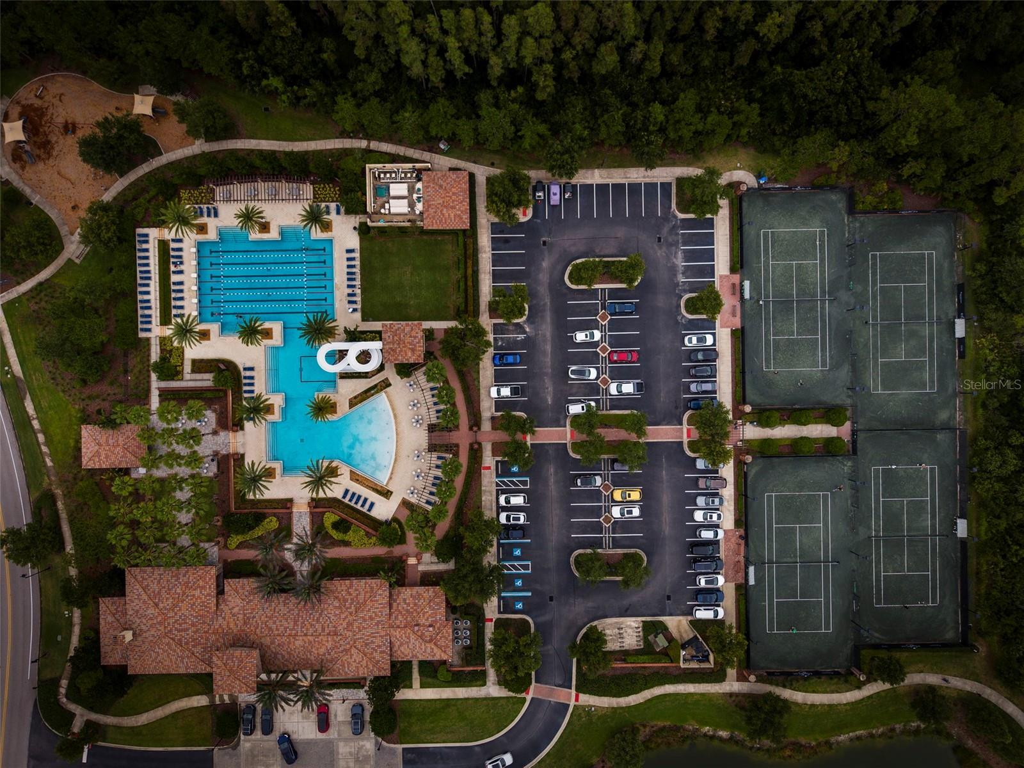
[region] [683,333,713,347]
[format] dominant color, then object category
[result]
white car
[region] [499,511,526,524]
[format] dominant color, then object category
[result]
white vehicle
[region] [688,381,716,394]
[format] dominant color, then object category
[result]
gray vehicle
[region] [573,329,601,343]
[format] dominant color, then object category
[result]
white car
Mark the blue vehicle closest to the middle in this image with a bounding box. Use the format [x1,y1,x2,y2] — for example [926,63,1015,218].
[493,352,520,366]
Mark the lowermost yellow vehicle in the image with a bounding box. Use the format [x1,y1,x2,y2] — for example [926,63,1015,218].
[612,488,642,502]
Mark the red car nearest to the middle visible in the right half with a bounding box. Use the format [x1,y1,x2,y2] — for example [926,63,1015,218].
[609,349,639,364]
